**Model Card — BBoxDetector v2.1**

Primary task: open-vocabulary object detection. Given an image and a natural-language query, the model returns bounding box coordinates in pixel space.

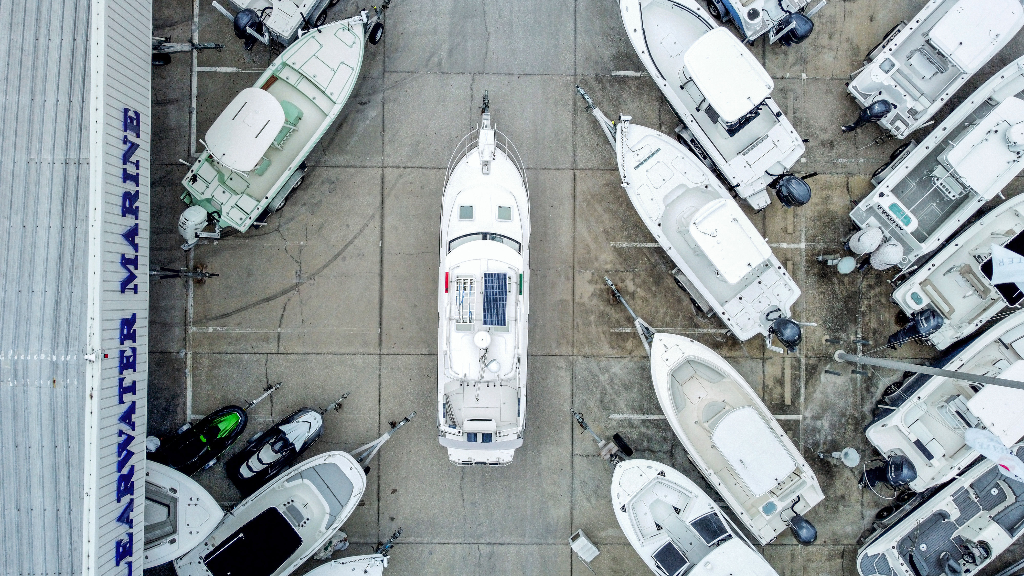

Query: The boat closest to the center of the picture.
[436,113,531,466]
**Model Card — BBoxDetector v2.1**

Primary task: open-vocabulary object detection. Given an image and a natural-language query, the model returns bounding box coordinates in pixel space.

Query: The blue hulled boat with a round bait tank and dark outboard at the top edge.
[720,0,816,70]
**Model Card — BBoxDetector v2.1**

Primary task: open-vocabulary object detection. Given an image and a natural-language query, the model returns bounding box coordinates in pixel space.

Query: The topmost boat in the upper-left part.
[230,0,325,58]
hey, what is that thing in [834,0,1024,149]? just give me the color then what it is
white boat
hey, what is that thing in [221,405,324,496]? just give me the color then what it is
black boat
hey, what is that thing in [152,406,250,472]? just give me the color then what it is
black boat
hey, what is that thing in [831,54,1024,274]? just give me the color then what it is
white boat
